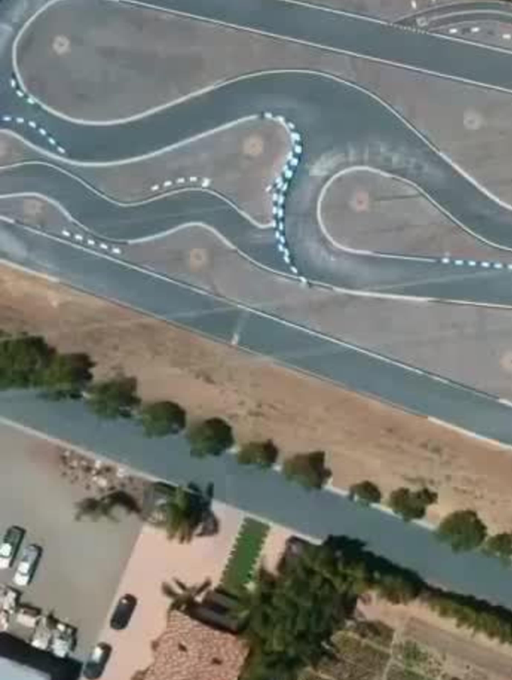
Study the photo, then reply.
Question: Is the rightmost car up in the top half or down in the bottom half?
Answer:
bottom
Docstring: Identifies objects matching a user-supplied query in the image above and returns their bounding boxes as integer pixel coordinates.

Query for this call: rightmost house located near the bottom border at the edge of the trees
[144,609,251,680]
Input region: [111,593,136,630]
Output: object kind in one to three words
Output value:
car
